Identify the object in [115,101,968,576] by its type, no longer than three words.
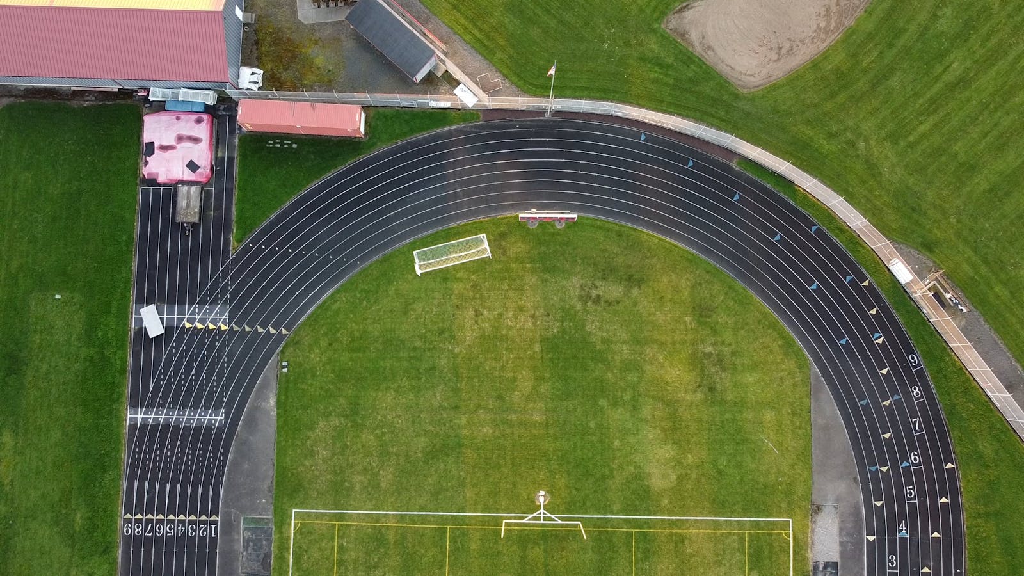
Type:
running track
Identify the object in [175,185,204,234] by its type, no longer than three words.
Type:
trailer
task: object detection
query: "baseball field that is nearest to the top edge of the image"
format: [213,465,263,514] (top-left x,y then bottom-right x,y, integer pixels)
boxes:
[428,0,1024,366]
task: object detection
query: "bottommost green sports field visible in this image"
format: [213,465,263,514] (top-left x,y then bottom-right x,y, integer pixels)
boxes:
[271,216,812,576]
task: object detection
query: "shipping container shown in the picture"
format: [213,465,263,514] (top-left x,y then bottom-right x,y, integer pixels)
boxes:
[237,99,366,137]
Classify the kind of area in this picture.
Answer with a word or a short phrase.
sports ground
